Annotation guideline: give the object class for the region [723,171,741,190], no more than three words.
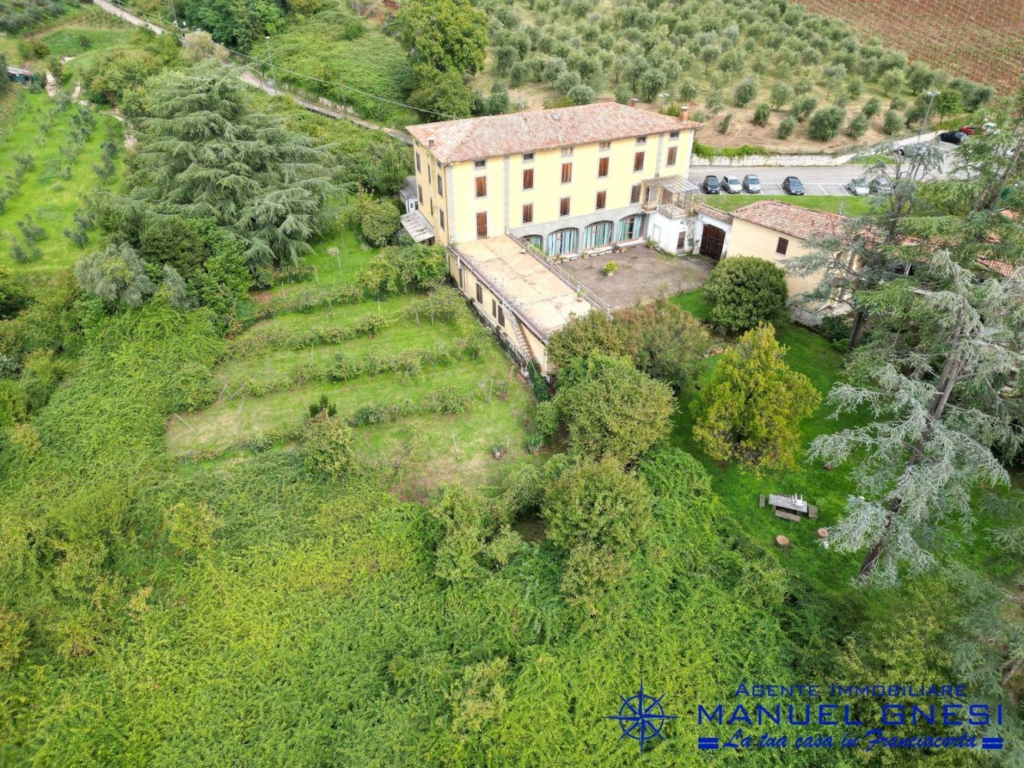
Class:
car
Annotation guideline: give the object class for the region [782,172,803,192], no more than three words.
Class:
car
